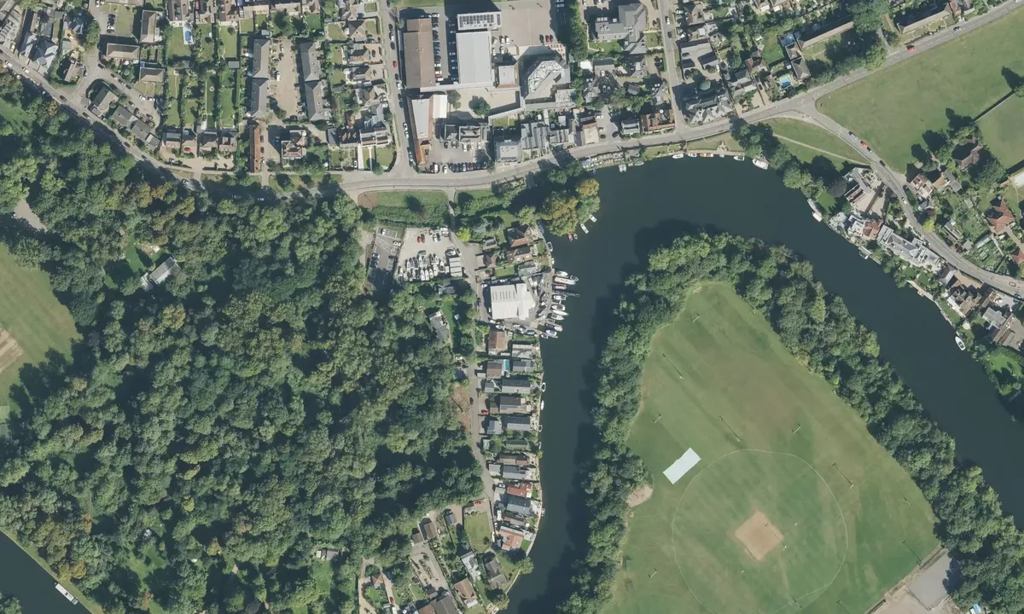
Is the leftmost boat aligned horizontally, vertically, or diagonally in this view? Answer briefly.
diagonally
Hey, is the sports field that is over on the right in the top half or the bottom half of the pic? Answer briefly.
bottom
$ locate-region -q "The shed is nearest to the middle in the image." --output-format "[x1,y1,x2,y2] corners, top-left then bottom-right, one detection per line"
[490,283,534,320]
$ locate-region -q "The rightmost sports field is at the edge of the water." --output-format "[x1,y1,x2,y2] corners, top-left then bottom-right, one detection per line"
[603,282,941,614]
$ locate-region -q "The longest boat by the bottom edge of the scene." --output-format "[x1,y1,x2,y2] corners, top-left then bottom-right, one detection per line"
[55,583,78,604]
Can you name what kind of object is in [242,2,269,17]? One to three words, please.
house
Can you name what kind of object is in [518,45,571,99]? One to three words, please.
building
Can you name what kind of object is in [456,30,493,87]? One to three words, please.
building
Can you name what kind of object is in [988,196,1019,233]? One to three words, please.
house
